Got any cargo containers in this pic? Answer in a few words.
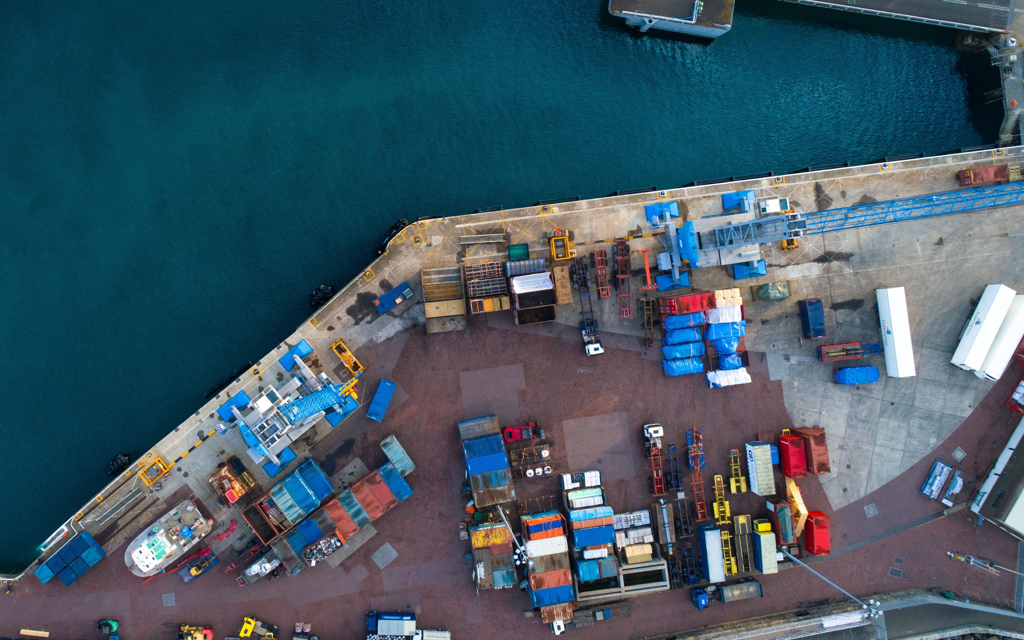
Yes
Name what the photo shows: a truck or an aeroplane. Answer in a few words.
truck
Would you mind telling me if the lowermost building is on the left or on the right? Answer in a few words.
right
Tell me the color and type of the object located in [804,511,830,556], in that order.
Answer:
red shipping container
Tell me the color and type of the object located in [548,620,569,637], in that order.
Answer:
white vehicle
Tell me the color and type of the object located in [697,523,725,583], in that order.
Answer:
white trailer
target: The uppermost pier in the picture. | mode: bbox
[607,0,734,41]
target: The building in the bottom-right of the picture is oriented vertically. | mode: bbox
[972,418,1024,541]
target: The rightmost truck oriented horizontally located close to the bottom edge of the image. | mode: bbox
[685,578,762,609]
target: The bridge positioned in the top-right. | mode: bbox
[741,0,1014,37]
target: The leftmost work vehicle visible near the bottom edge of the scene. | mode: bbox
[91,614,126,633]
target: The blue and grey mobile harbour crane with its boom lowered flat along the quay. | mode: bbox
[644,181,1024,291]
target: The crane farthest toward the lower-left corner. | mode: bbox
[218,338,361,474]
